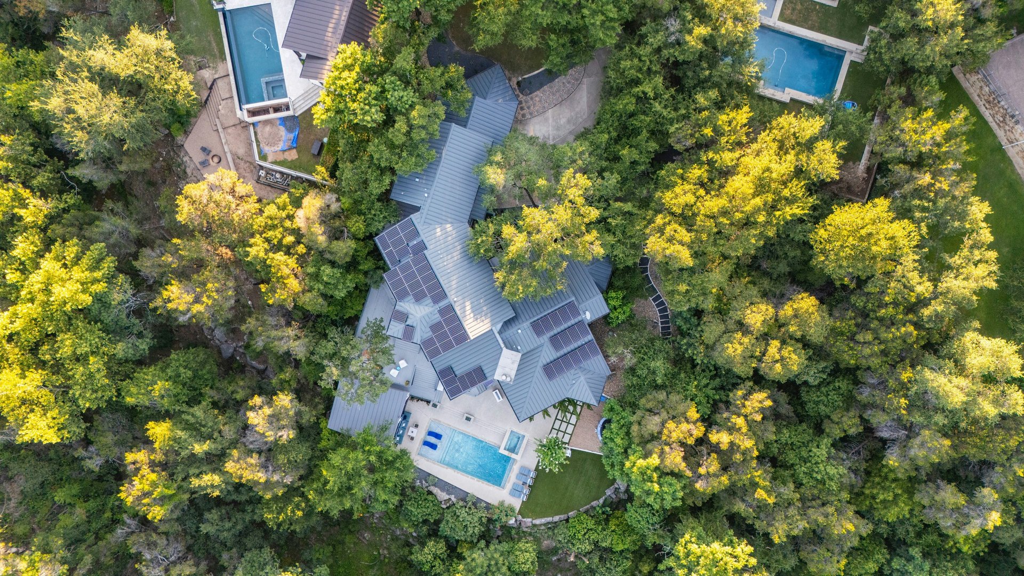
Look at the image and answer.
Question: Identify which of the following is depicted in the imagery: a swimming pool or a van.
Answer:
swimming pool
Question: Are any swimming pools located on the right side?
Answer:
Yes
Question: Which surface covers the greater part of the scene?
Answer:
trees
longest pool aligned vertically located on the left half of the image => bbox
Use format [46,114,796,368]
[218,4,296,123]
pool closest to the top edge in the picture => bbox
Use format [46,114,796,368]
[762,0,784,20]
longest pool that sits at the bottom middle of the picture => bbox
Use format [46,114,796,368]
[415,416,519,494]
